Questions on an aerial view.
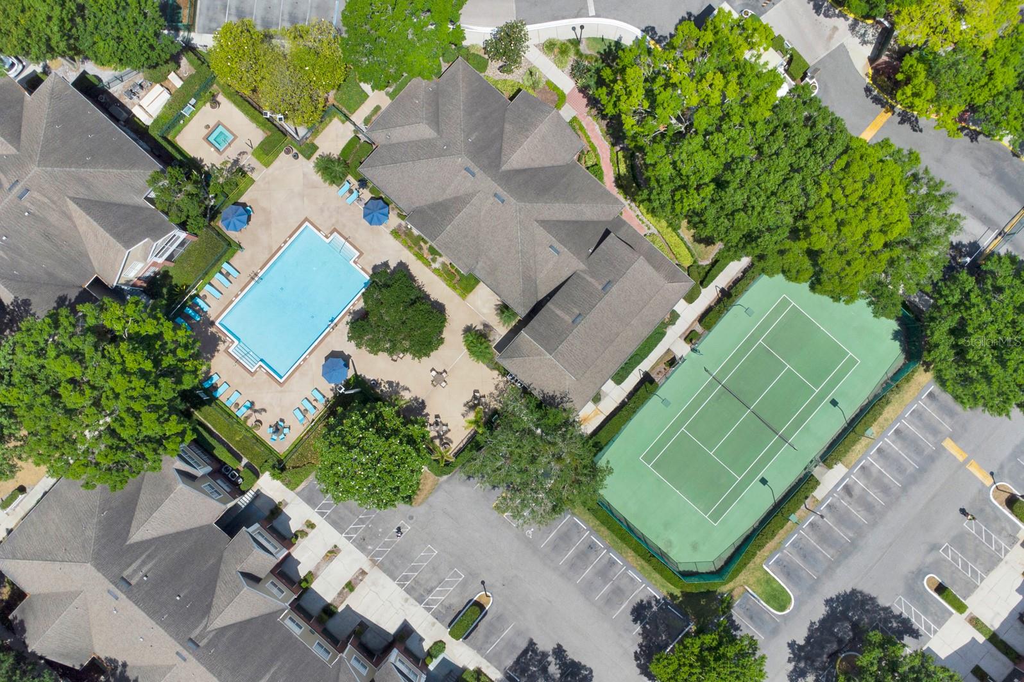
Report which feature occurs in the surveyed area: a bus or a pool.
pool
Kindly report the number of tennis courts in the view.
1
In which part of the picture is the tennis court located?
right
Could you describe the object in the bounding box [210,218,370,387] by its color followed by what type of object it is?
blue swimming pool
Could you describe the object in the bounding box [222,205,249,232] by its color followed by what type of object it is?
blue umbrella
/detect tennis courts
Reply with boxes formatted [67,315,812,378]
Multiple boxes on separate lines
[597,241,907,574]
